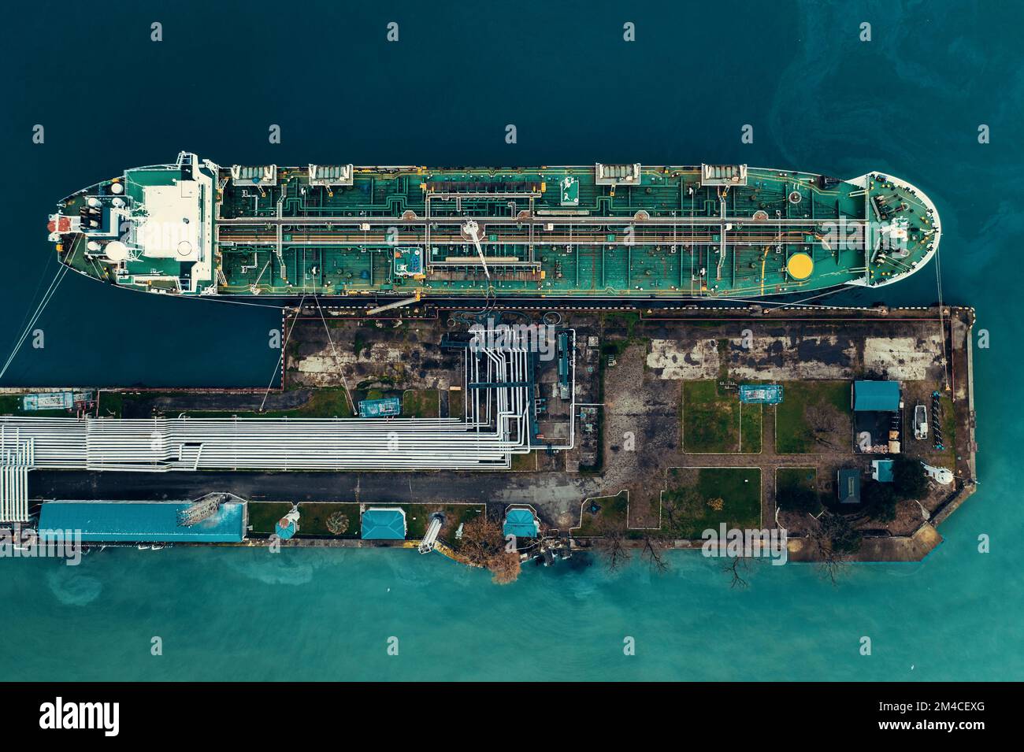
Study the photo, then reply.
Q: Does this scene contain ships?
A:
Yes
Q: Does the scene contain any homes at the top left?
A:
No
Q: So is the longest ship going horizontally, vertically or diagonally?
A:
horizontally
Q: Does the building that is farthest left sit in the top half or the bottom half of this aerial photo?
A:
bottom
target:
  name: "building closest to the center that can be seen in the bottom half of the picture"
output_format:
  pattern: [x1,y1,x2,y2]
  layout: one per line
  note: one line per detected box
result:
[504,508,540,537]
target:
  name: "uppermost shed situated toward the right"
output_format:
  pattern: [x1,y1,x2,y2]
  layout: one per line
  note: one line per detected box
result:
[849,381,906,411]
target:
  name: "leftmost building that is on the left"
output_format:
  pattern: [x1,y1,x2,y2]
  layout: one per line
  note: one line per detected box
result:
[0,492,248,547]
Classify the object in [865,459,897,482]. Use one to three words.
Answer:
building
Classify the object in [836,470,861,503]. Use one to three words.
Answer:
house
